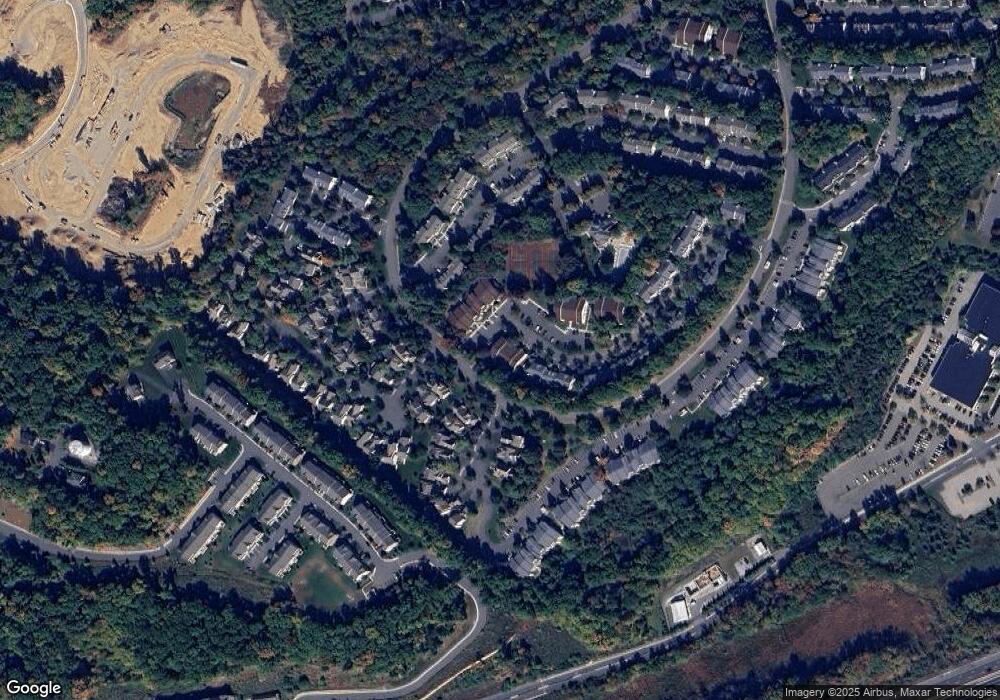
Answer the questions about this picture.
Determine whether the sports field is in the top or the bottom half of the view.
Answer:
bottom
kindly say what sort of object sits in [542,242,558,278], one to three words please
tennis court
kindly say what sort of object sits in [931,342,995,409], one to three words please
building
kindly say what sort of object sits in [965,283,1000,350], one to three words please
building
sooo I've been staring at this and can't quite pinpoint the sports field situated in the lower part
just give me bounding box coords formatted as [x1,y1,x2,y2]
[291,551,359,608]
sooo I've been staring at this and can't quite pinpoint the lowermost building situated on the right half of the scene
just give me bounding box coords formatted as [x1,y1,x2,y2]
[671,599,691,623]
